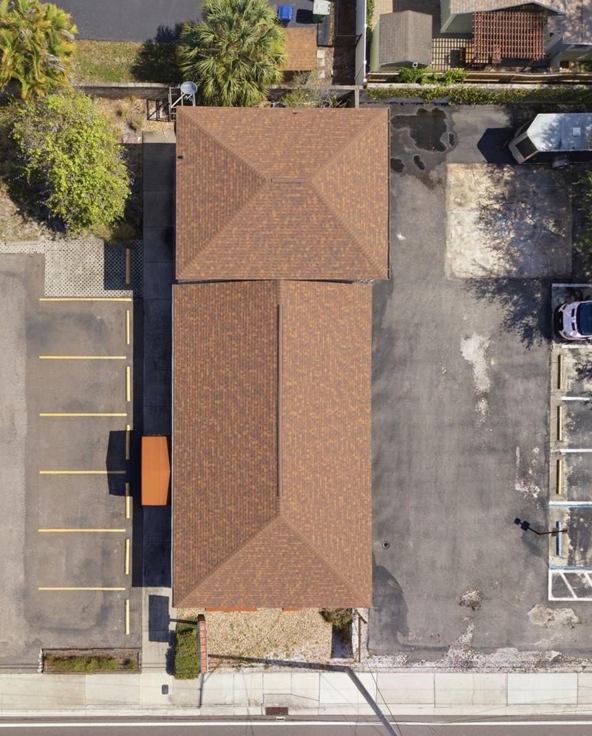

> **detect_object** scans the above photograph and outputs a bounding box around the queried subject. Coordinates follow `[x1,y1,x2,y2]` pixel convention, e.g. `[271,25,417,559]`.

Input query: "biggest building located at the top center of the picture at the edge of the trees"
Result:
[173,104,392,283]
